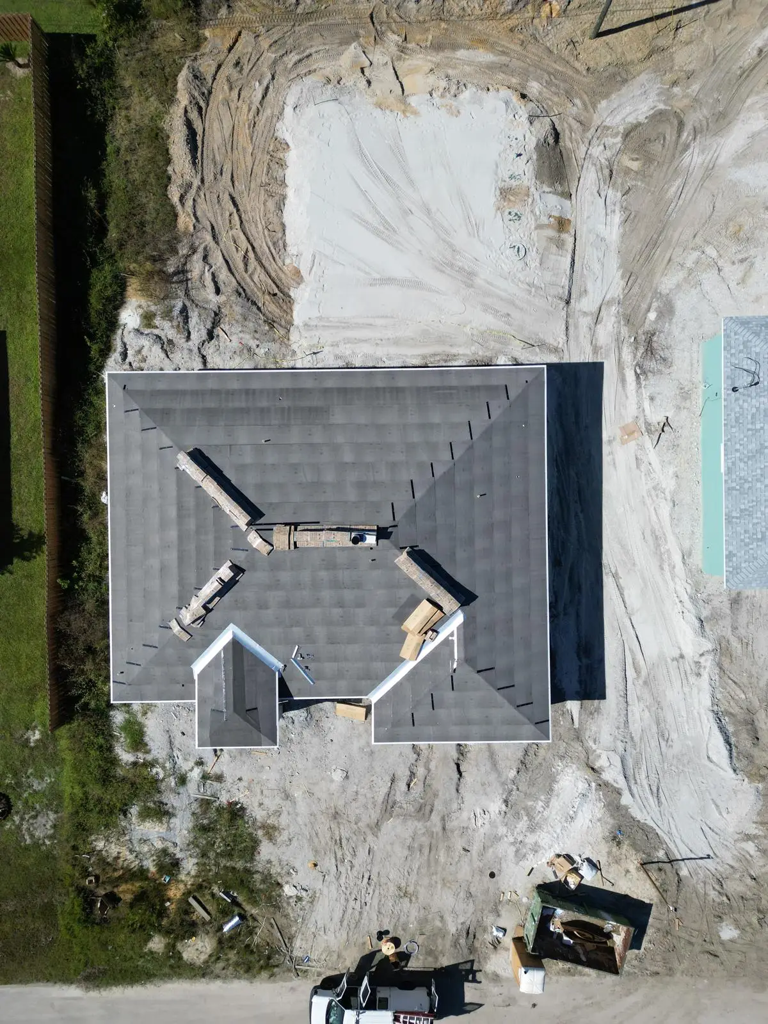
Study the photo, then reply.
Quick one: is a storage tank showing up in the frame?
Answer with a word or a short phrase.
No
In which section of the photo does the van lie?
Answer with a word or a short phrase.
bottom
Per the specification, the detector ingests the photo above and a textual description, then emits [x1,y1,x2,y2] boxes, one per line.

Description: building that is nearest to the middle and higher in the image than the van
[106,365,552,748]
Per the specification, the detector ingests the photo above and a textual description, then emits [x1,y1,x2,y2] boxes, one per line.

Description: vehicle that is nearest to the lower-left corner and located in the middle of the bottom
[308,964,438,1024]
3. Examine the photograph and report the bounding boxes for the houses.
[701,314,768,590]
[106,365,552,748]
